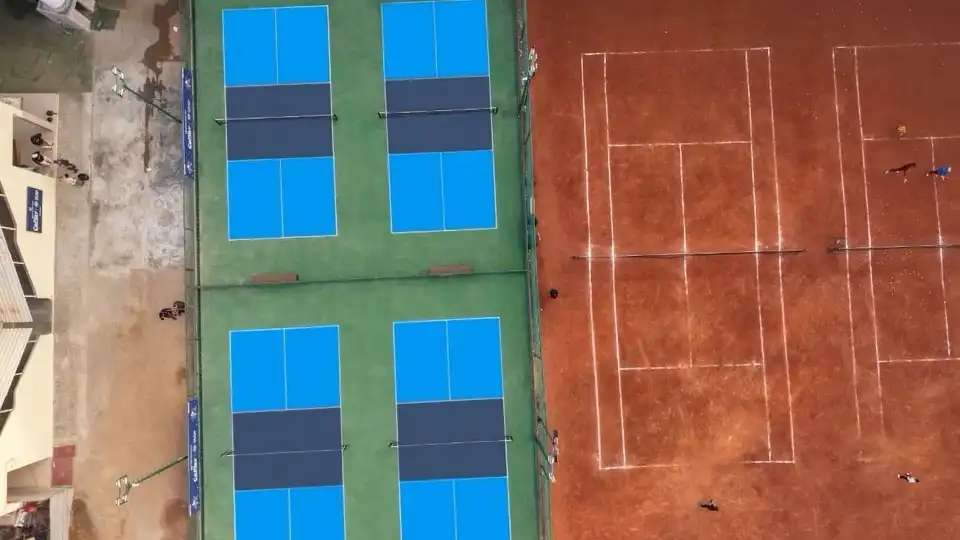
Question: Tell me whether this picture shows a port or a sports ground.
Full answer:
What you see here is a sports ground.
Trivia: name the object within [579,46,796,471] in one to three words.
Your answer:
tennis court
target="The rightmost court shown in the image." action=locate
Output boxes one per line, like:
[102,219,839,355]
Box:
[831,41,960,461]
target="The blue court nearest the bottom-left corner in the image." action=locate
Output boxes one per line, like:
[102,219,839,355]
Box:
[230,326,346,540]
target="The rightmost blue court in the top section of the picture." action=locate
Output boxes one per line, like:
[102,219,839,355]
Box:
[382,0,498,233]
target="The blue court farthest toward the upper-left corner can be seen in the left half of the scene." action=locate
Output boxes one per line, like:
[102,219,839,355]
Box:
[222,6,337,241]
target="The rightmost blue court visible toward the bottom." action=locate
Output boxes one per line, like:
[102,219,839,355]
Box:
[392,318,511,540]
